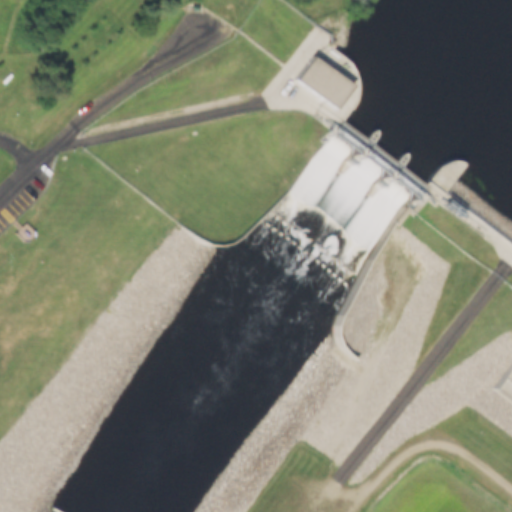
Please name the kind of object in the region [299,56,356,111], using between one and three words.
building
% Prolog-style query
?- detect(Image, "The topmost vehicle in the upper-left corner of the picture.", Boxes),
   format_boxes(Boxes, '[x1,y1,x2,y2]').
[2,74,15,86]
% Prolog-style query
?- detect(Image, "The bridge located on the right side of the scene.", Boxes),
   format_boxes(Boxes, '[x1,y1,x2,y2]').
[328,117,442,205]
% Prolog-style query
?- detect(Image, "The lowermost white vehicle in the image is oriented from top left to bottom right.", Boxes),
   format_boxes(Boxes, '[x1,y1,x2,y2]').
[40,164,54,179]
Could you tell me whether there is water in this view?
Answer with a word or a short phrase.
Yes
